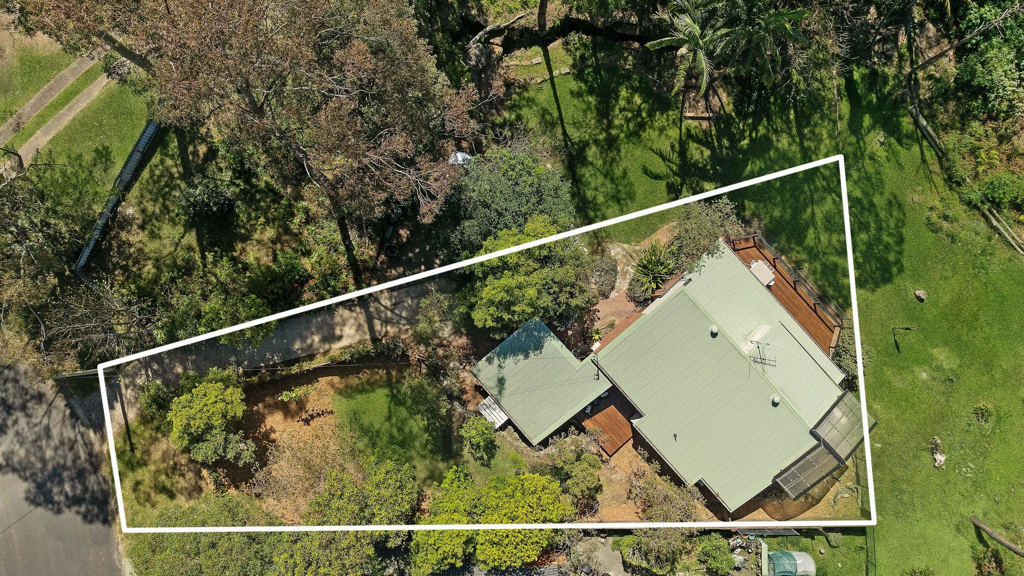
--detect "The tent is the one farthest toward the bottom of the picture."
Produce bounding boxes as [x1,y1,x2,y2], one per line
[773,549,819,576]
